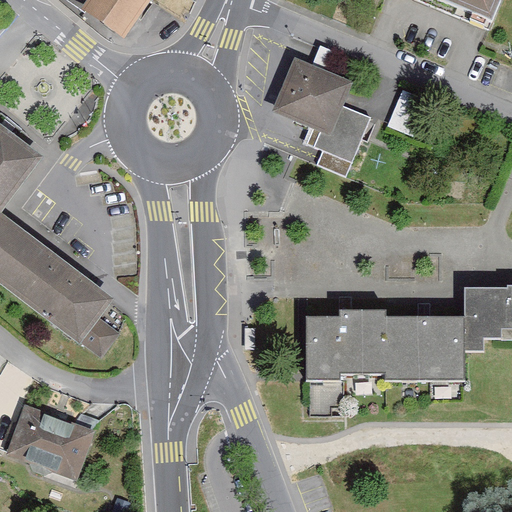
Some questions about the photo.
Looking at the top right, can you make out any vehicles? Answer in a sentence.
Yes, there is a vehicle at the top right.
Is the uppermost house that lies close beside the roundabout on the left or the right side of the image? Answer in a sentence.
The uppermost house that lies close beside the roundabout appears in the left half of the scene.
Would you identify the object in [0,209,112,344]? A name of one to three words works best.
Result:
building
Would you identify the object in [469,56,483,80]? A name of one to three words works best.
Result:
car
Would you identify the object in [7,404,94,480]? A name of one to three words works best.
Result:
house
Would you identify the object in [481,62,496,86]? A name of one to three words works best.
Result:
car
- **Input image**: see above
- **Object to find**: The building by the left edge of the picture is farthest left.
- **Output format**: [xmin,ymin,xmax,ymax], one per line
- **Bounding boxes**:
[0,124,43,208]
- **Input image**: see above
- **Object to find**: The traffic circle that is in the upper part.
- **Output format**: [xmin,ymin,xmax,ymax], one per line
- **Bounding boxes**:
[103,50,241,187]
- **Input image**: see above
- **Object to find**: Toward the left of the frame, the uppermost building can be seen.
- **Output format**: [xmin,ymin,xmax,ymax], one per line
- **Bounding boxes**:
[82,0,152,38]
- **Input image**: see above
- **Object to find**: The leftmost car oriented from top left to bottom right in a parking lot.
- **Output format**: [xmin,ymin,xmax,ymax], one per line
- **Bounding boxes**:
[70,238,92,258]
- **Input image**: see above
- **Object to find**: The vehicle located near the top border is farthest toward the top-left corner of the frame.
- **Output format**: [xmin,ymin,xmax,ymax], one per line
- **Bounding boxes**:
[158,20,182,40]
